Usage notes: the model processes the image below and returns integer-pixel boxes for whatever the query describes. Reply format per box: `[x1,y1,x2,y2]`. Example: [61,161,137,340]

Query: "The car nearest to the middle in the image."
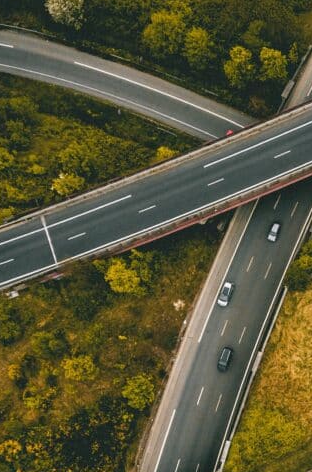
[217,281,234,307]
